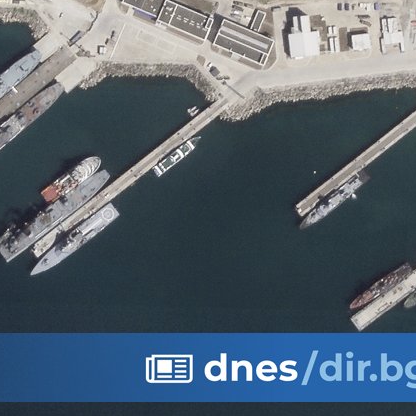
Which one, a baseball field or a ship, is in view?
ship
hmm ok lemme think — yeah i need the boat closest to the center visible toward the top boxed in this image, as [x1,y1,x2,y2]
[152,137,200,176]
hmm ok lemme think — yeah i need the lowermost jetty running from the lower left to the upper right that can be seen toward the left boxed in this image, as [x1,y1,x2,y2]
[31,95,233,256]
